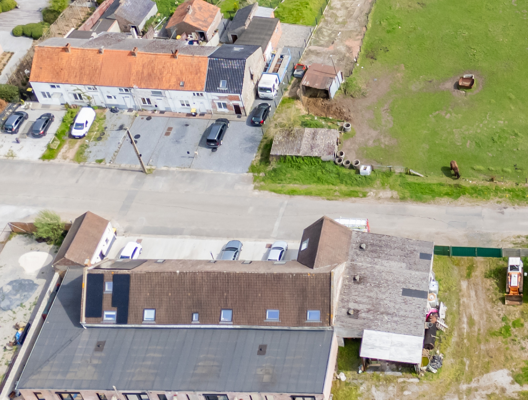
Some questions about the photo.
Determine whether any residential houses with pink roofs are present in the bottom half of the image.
No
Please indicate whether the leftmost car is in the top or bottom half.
top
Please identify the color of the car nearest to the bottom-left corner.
white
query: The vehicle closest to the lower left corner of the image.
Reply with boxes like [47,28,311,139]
[116,234,146,260]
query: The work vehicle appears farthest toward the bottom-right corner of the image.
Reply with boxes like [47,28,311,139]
[504,255,525,305]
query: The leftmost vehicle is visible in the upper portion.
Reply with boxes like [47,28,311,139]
[0,110,31,134]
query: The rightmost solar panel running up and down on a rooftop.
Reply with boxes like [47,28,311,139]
[112,275,130,324]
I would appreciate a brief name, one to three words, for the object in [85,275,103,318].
solar panel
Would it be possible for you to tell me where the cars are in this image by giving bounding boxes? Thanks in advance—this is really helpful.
[27,111,57,137]
[249,99,275,127]
[266,234,291,261]
[0,110,31,134]
[116,234,146,260]
[206,118,231,148]
[71,103,96,137]
[219,233,245,261]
